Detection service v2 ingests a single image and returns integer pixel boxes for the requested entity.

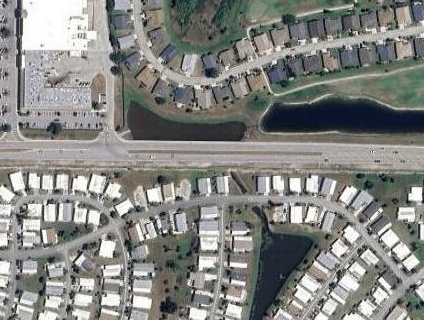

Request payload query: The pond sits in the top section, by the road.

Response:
[122,100,248,141]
